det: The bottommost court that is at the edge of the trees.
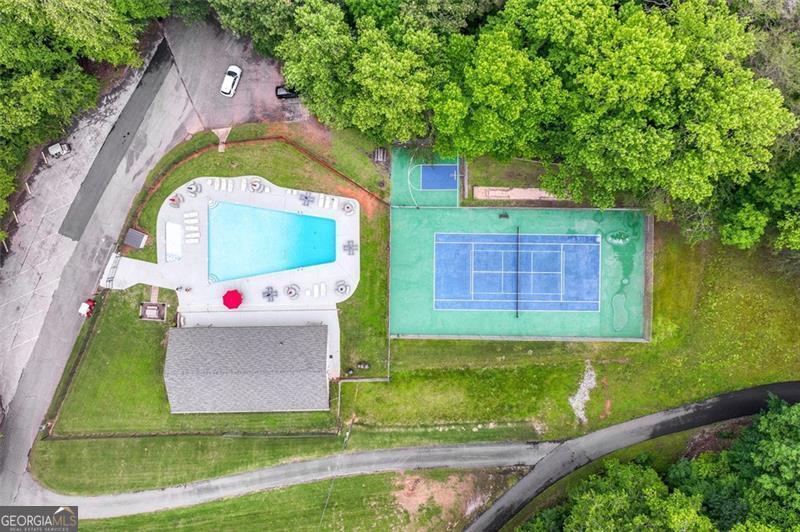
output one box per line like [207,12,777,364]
[390,207,650,342]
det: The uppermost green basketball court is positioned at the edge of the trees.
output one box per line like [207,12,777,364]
[391,147,460,207]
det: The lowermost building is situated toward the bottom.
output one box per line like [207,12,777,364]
[163,322,330,415]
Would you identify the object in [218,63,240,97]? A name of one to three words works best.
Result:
car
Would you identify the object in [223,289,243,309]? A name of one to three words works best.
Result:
umbrella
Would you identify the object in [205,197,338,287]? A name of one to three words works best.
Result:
swimming pool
